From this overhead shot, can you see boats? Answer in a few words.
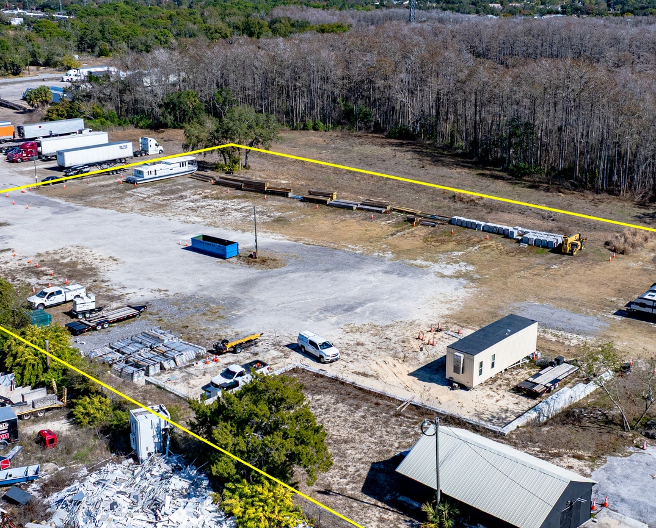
Yes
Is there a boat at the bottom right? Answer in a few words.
No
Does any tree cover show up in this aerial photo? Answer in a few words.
Yes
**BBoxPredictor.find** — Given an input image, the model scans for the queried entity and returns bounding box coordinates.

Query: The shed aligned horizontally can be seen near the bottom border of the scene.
[400,424,593,528]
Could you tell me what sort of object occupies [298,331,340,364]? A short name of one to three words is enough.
truck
